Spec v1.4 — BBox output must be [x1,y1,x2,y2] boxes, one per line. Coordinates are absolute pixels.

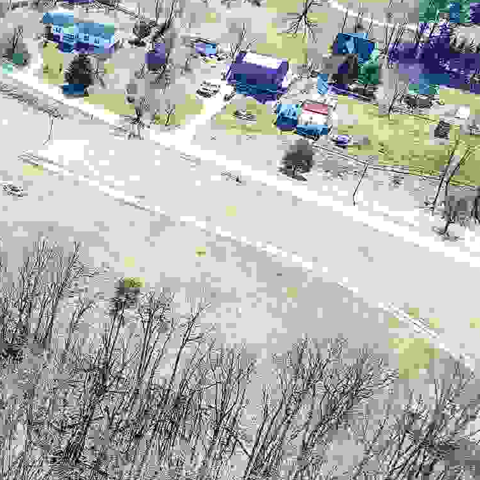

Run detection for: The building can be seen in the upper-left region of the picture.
[51,8,125,56]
